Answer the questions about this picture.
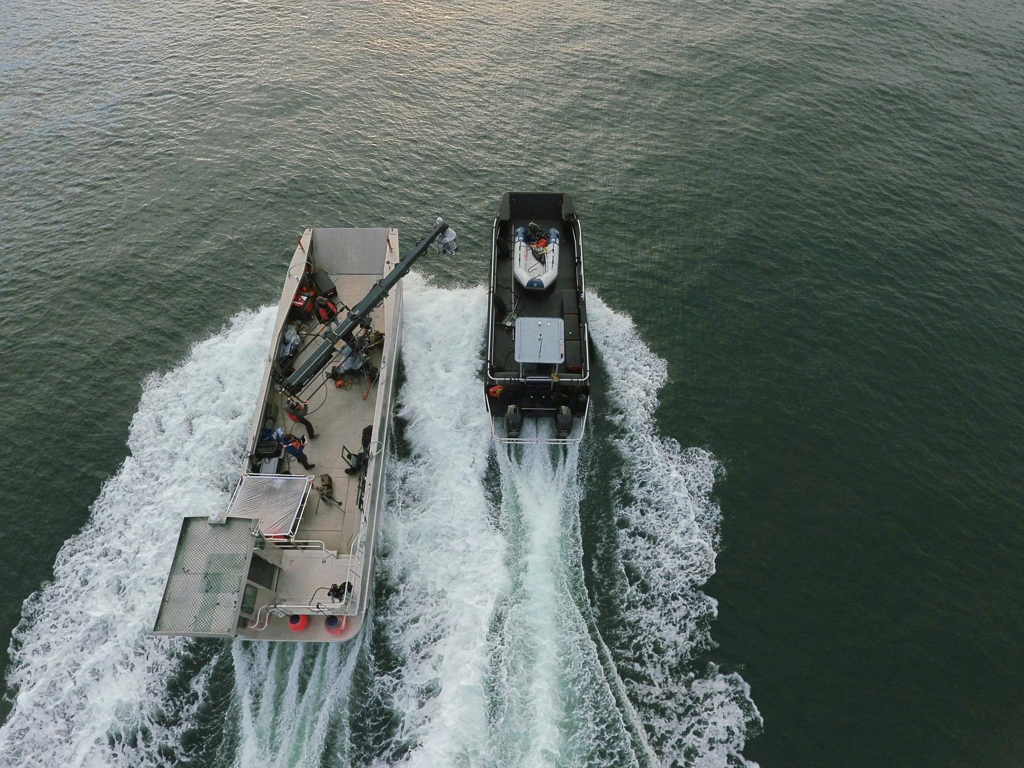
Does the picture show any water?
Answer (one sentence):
Yes, some water is visible.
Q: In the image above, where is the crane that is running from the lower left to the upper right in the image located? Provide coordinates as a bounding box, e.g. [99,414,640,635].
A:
[270,216,457,403]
